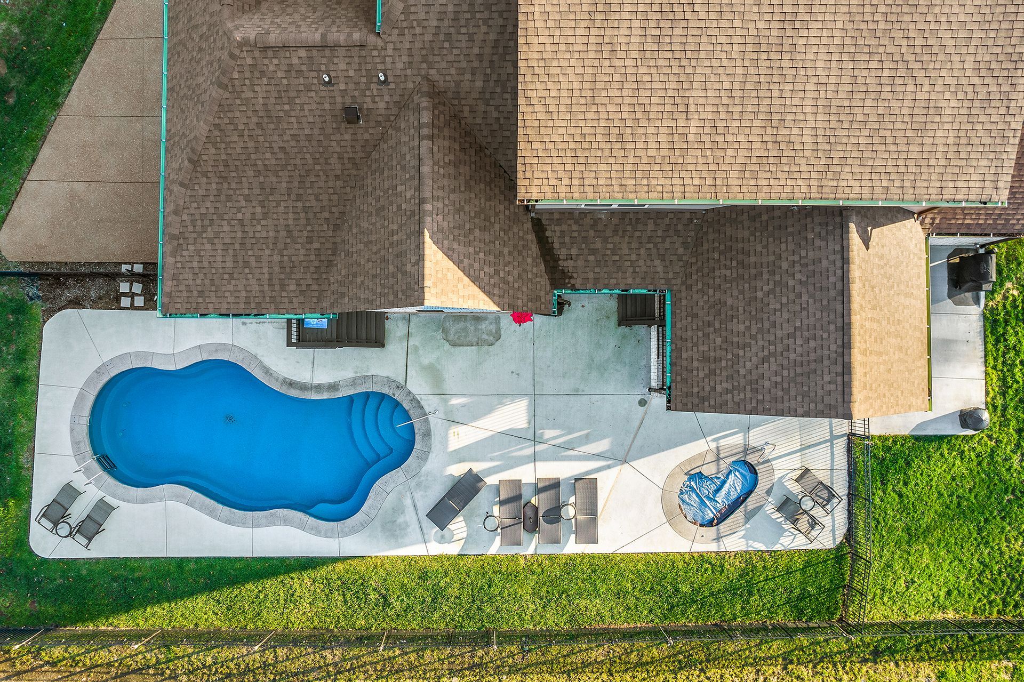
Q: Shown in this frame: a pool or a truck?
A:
pool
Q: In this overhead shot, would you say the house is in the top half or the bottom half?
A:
top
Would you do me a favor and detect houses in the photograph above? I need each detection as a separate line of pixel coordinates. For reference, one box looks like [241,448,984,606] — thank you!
[159,0,1024,419]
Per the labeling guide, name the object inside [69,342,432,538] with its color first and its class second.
blue swimming pool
